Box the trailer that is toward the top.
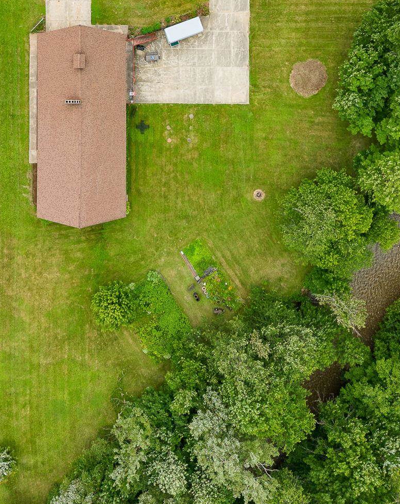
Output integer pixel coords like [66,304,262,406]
[164,16,206,44]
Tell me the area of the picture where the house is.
top left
